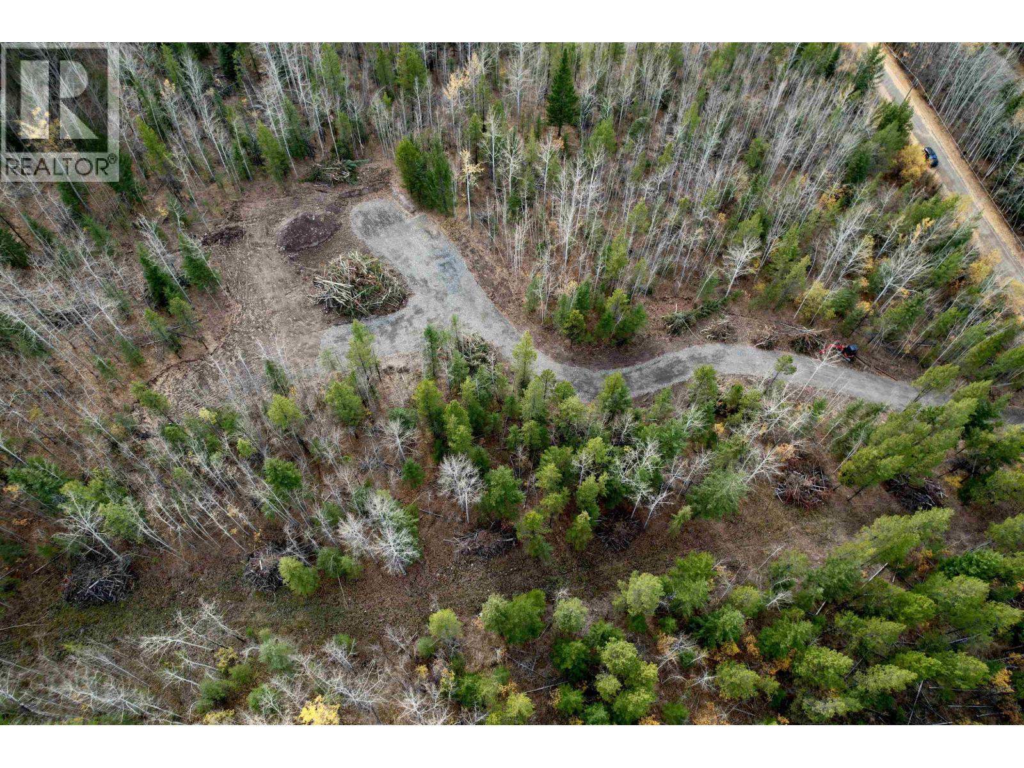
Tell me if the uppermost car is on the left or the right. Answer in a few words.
right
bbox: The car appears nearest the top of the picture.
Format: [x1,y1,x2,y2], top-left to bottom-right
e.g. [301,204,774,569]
[923,142,943,163]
